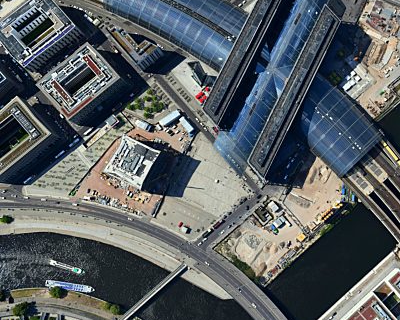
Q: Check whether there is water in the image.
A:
Yes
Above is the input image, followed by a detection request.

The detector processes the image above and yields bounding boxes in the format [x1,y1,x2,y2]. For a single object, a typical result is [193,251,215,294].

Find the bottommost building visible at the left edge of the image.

[0,97,59,184]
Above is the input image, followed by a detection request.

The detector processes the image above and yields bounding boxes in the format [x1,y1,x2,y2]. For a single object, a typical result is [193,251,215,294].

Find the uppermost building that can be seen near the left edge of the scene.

[0,0,82,71]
